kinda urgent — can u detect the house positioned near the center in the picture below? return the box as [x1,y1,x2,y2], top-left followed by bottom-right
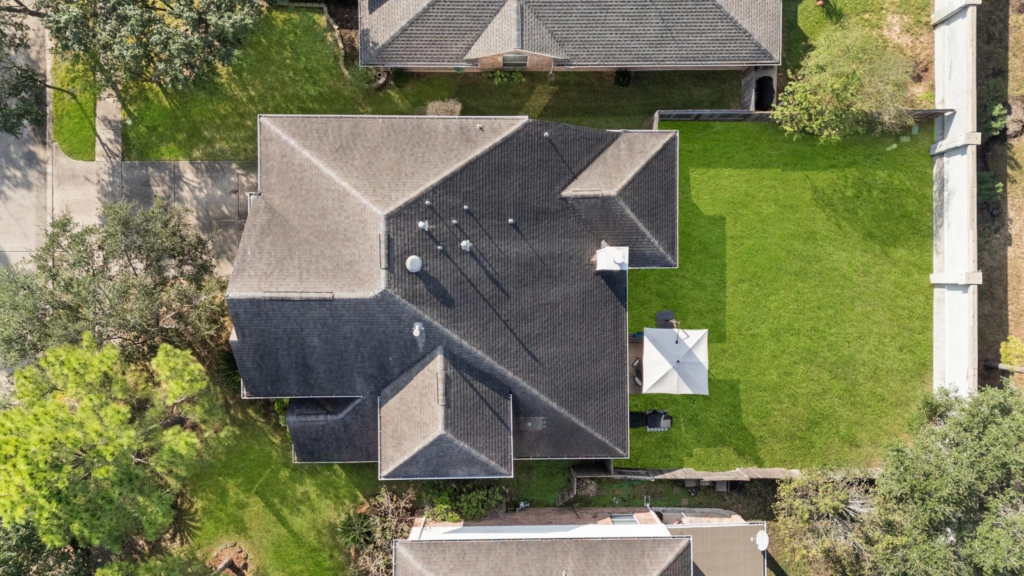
[226,115,681,482]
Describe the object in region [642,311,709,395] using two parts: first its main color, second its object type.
white umbrella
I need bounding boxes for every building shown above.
[226,115,681,482]
[357,0,784,78]
[391,502,695,576]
